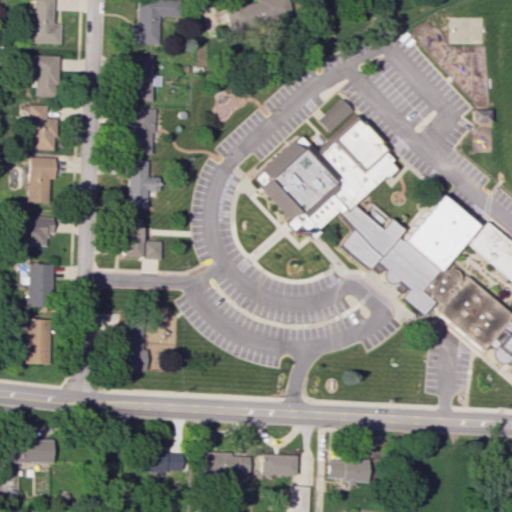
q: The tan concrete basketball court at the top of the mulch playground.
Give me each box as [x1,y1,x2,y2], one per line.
[448,18,485,45]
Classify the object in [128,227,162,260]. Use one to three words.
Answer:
house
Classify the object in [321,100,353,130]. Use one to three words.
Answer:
building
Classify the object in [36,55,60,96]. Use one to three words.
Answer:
house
